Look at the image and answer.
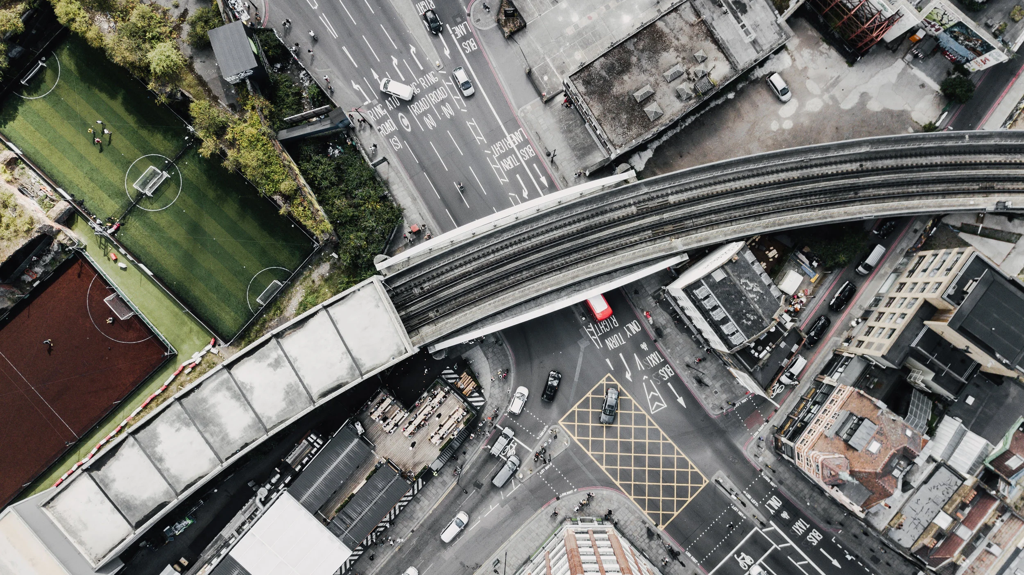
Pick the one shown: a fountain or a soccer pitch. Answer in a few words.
soccer pitch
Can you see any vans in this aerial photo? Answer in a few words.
Yes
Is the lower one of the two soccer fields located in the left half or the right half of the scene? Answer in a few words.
left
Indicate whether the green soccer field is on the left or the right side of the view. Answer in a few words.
left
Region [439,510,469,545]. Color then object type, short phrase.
white car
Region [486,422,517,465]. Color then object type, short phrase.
white truck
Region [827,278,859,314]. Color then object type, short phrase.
black car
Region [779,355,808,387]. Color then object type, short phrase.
white car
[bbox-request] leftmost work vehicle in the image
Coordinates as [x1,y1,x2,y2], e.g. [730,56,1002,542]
[156,503,201,545]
